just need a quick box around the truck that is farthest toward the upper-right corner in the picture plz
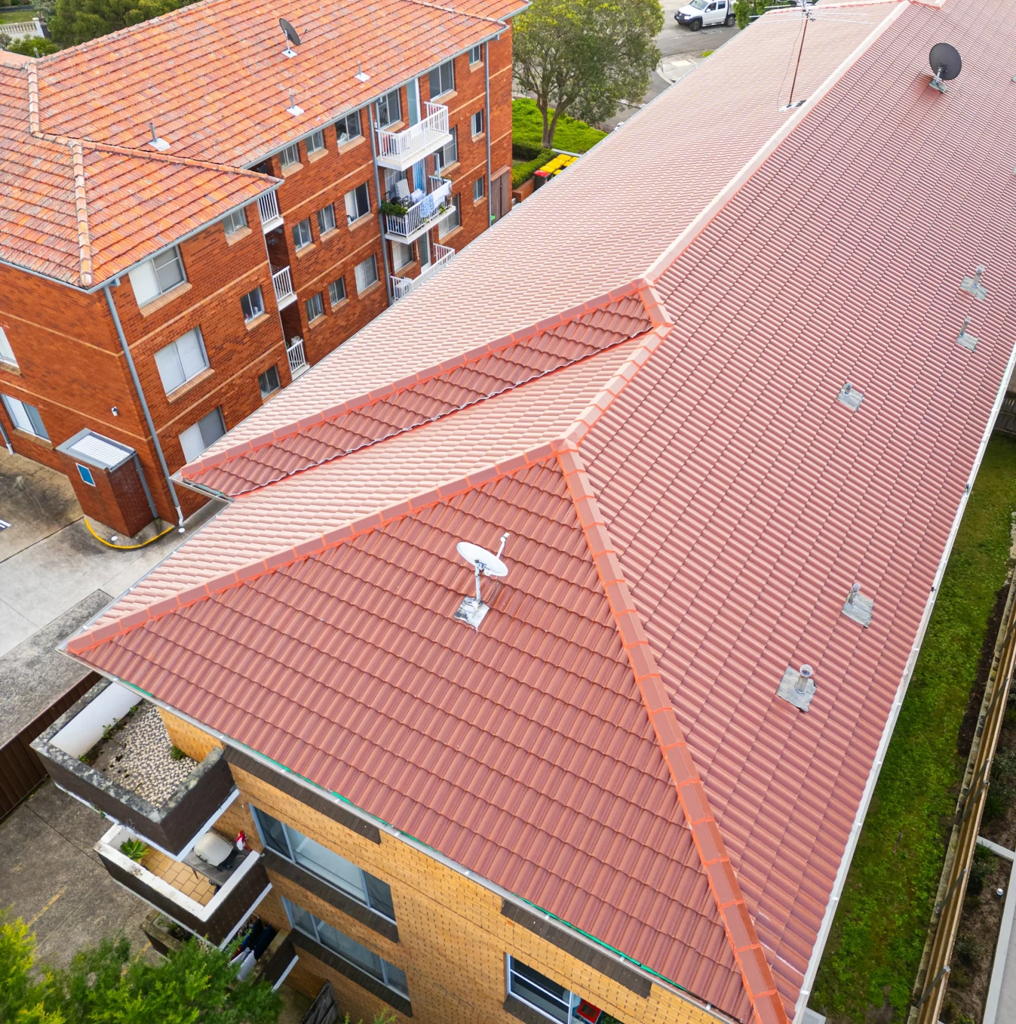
[675,0,741,31]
